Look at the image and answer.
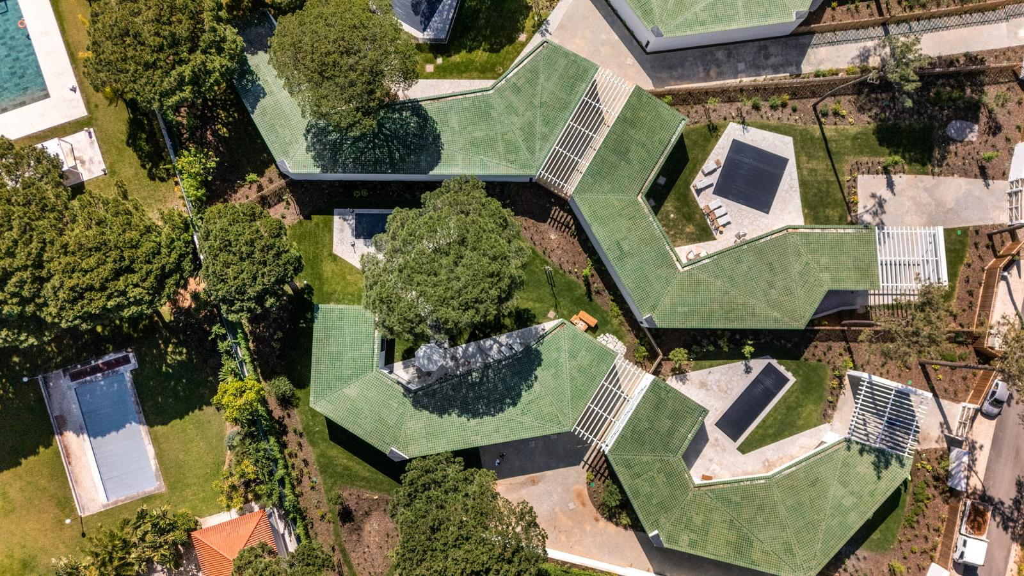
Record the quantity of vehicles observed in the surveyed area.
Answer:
2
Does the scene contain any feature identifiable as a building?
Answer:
Yes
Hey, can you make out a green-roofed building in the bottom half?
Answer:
Yes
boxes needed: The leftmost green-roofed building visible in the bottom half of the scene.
[310,304,619,459]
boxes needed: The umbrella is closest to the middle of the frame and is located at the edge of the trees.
[417,343,445,371]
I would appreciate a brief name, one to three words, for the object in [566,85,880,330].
building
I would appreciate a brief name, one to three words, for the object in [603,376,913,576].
building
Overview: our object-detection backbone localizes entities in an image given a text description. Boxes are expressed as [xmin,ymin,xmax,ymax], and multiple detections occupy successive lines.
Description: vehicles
[954,500,1000,571]
[981,374,1015,415]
